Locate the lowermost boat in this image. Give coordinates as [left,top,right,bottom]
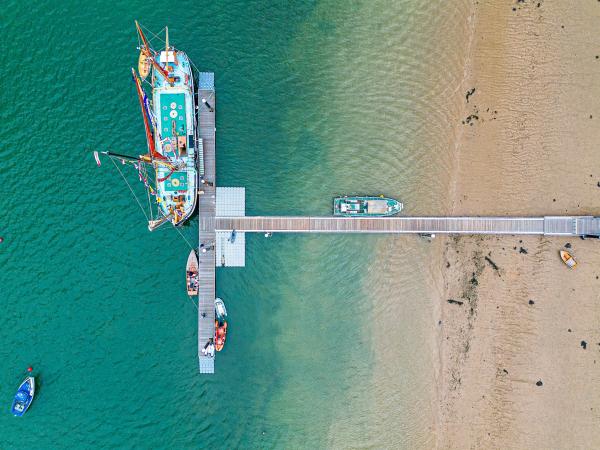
[11,376,36,419]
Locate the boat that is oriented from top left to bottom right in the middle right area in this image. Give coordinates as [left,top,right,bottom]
[561,250,578,270]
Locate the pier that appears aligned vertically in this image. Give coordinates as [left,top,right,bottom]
[197,86,216,359]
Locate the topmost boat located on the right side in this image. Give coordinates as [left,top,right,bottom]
[334,195,404,217]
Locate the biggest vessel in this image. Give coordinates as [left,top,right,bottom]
[97,20,199,229]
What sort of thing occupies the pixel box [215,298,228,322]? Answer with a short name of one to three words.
boat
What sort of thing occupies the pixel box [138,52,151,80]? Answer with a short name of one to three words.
boat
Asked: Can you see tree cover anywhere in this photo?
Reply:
No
